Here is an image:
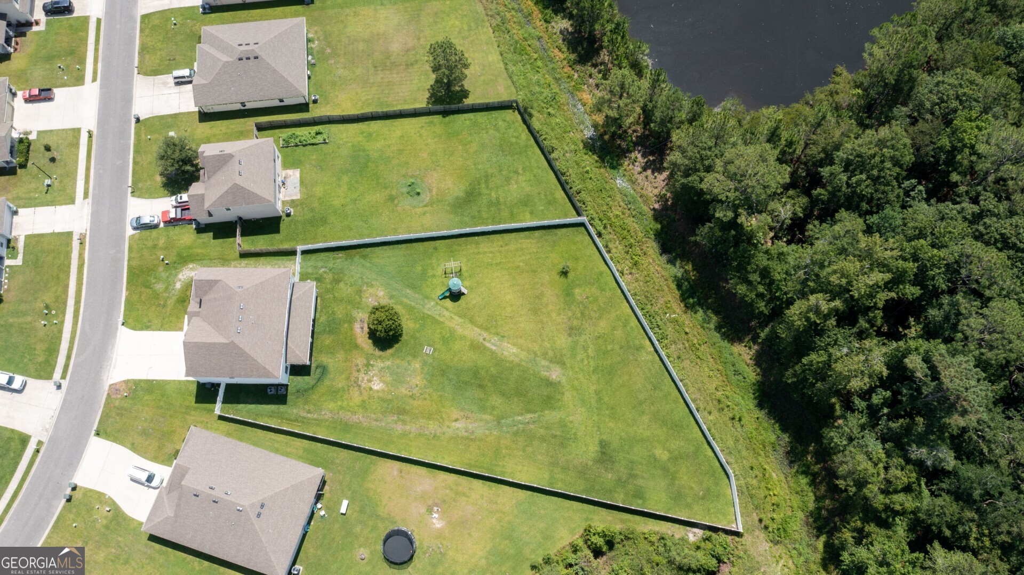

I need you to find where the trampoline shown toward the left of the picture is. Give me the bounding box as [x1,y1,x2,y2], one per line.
[382,529,417,565]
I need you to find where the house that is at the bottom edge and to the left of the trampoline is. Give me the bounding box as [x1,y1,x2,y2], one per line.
[142,426,327,575]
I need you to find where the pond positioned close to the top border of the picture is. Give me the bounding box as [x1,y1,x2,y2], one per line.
[623,0,934,120]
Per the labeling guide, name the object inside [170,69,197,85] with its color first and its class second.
white car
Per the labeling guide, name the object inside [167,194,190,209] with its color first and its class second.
white car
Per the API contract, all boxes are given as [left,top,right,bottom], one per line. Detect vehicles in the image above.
[170,69,197,85]
[20,87,57,103]
[129,216,161,230]
[167,194,190,209]
[43,0,74,16]
[0,374,29,391]
[126,466,164,488]
[160,207,197,223]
